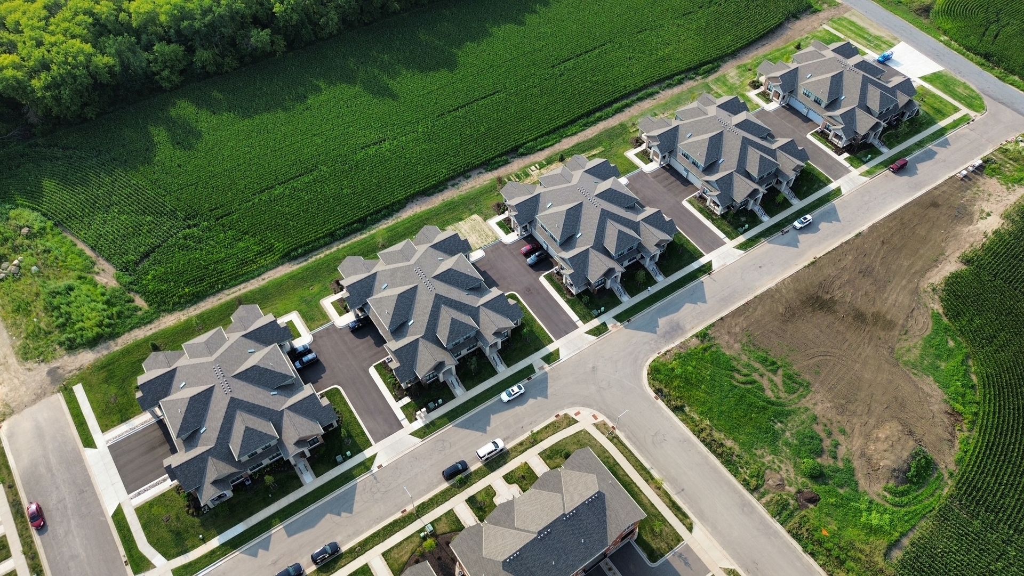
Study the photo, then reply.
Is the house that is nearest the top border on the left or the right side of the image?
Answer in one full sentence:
The house that is nearest the top border is on the right side of the image.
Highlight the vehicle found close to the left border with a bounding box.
[28,501,46,531]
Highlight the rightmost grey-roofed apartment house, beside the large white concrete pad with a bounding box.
[756,38,926,153]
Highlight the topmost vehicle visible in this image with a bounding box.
[874,45,898,64]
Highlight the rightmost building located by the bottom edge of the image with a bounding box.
[447,444,649,576]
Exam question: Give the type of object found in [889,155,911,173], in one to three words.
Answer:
car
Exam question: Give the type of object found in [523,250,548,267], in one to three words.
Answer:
car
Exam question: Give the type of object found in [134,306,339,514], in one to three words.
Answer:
house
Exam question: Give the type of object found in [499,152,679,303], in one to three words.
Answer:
house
